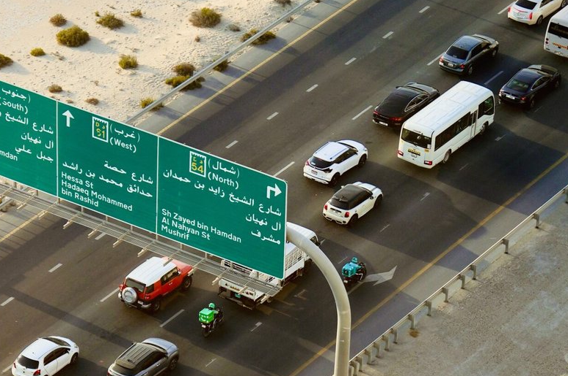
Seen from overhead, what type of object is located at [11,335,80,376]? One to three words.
car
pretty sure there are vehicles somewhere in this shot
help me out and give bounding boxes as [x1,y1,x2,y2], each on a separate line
[401,78,500,167]
[302,139,368,186]
[323,178,385,223]
[506,0,565,26]
[377,88,440,136]
[496,63,562,111]
[199,306,226,336]
[439,33,499,77]
[11,335,80,376]
[339,258,369,285]
[544,0,568,58]
[105,338,181,376]
[112,255,196,313]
